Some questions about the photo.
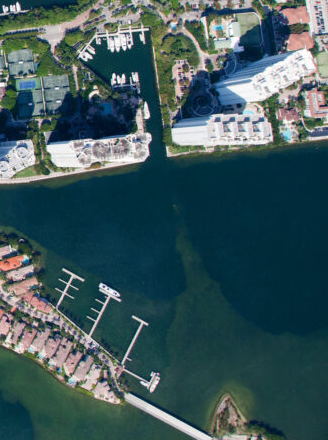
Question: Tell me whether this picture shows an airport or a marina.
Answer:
marina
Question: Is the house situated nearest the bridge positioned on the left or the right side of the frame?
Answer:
left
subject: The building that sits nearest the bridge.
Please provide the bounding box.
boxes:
[88,379,122,405]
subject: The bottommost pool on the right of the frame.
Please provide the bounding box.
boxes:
[281,123,295,141]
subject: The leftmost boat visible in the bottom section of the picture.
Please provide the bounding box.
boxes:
[99,283,121,296]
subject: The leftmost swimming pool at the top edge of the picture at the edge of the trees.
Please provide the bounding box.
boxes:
[210,18,227,40]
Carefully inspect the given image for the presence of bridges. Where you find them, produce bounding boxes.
[121,393,214,440]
